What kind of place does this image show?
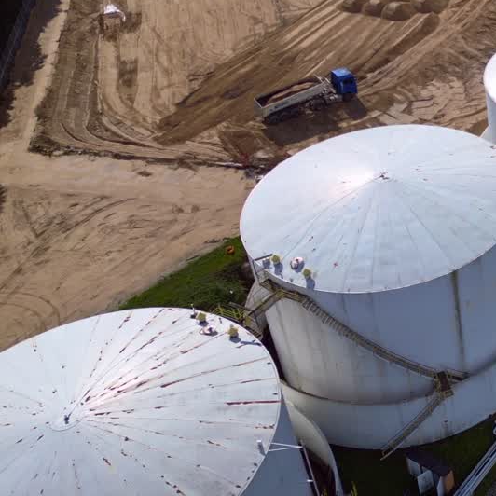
industrial area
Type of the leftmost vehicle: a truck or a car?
truck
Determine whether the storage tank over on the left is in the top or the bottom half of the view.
bottom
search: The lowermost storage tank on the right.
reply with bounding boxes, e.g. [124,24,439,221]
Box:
[239,125,496,401]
